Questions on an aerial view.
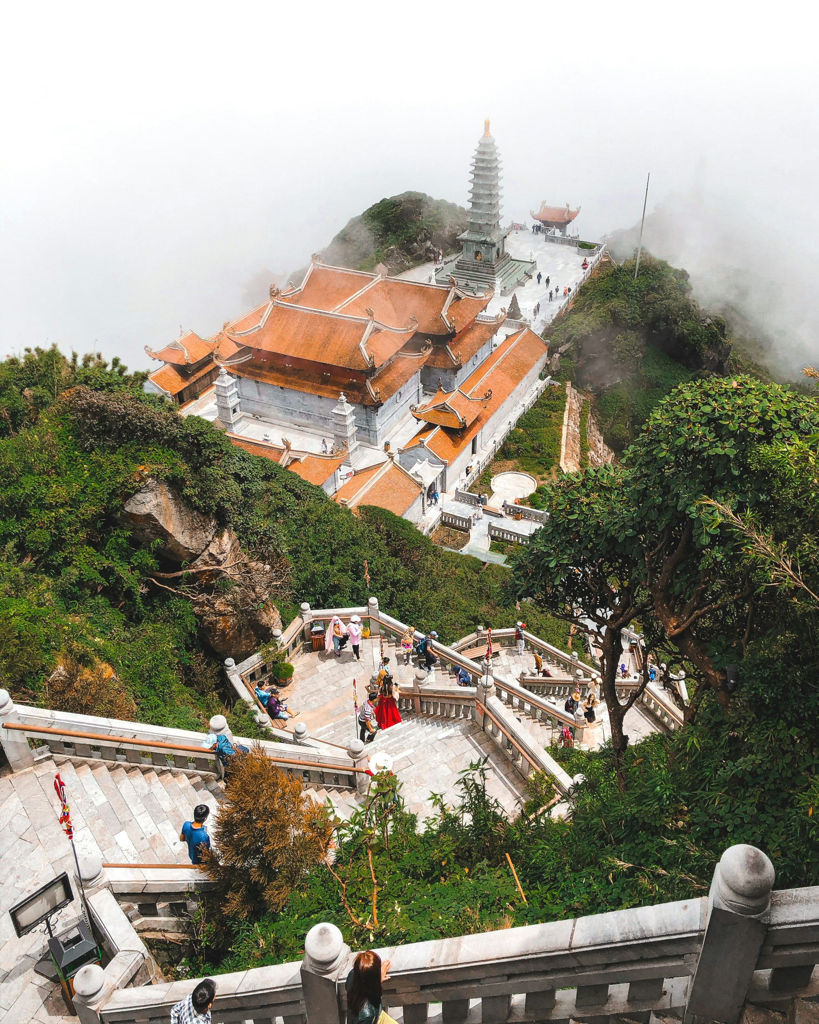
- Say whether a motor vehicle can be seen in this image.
No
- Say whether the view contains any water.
Yes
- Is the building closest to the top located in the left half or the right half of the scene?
right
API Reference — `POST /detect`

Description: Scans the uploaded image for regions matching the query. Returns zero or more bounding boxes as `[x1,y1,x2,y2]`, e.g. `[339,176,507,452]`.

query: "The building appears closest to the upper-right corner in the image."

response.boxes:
[533,189,584,233]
